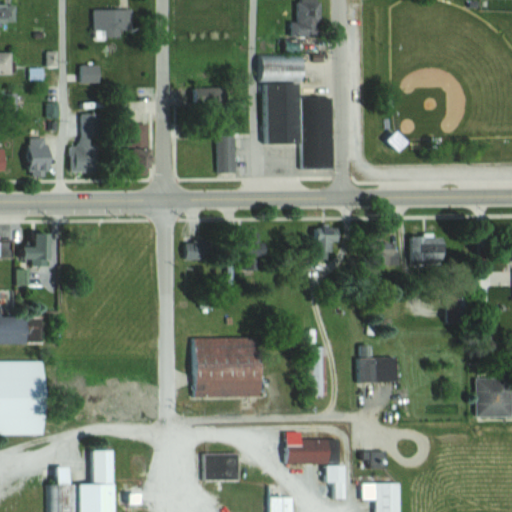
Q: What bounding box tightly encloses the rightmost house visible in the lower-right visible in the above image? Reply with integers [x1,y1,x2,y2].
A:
[475,377,512,422]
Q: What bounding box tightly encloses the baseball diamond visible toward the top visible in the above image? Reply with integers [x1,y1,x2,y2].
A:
[388,0,512,140]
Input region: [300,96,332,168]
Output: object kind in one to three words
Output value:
building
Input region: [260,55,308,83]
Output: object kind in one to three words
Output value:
barn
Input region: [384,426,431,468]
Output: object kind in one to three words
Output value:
roundabout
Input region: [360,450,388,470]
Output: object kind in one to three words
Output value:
house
